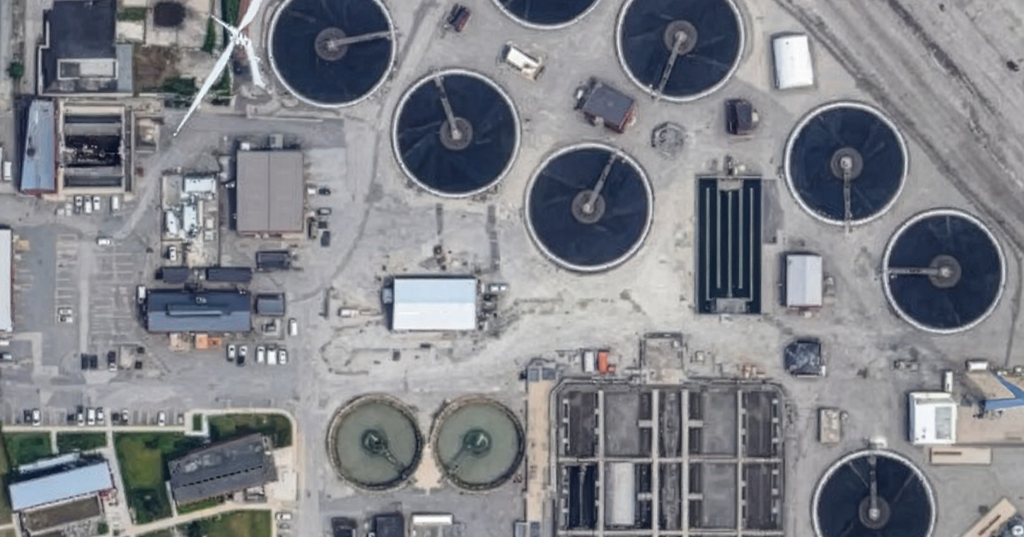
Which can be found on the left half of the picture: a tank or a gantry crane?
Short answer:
tank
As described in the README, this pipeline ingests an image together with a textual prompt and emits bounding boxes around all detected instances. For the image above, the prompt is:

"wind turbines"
[164,0,269,137]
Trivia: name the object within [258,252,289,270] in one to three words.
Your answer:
shed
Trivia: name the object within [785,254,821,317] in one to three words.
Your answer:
house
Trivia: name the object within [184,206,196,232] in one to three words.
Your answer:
building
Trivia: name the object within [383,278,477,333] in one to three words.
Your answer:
building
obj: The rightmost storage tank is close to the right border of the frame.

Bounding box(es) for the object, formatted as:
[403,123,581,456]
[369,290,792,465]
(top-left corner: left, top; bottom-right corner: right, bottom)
[880,208,1007,334]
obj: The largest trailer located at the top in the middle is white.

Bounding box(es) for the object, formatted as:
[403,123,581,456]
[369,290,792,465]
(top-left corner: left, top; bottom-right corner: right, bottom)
[504,45,544,81]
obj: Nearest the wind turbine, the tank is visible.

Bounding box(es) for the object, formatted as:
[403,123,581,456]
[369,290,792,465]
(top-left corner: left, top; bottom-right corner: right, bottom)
[266,0,398,108]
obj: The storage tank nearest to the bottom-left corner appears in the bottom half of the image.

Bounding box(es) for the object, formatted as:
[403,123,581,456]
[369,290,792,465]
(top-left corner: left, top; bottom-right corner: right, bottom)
[326,393,424,490]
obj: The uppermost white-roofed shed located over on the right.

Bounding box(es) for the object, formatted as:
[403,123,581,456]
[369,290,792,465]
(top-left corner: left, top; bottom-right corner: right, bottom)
[773,34,813,90]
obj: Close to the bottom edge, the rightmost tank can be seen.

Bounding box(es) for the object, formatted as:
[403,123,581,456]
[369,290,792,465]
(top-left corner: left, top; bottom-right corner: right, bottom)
[809,445,939,537]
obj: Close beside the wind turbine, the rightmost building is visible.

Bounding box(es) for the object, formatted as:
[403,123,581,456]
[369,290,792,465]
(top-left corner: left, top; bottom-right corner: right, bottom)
[236,135,304,239]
